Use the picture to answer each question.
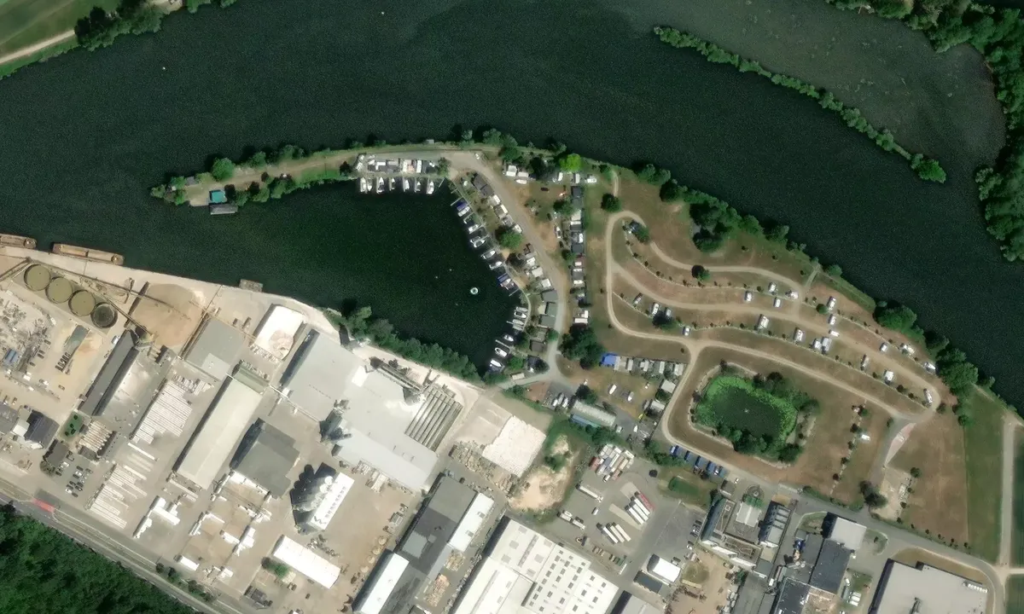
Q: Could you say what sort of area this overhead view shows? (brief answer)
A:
port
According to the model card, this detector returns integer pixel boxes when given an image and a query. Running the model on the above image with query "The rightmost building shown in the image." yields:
[876,561,988,614]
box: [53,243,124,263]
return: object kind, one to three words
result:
ship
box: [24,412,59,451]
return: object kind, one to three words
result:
house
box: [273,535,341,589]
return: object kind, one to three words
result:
shed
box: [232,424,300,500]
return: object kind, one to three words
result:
building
